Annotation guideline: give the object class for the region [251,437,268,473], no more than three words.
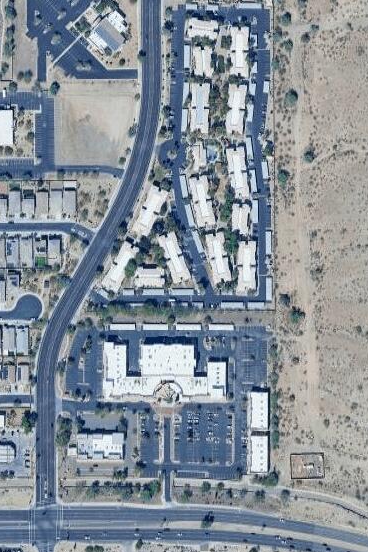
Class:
building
